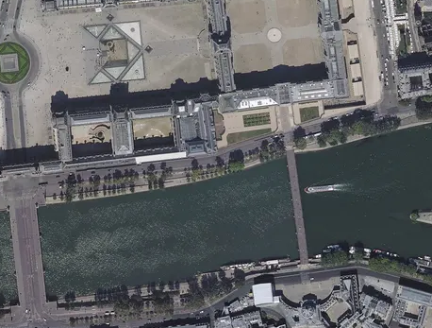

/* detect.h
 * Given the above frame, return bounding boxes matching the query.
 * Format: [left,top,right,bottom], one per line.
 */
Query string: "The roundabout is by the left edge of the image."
[0,33,40,93]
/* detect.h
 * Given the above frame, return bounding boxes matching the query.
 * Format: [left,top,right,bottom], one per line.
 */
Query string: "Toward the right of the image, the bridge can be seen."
[286,144,310,269]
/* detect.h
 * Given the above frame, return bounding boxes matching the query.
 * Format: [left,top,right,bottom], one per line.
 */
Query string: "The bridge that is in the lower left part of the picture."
[0,178,57,322]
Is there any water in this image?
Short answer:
Yes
